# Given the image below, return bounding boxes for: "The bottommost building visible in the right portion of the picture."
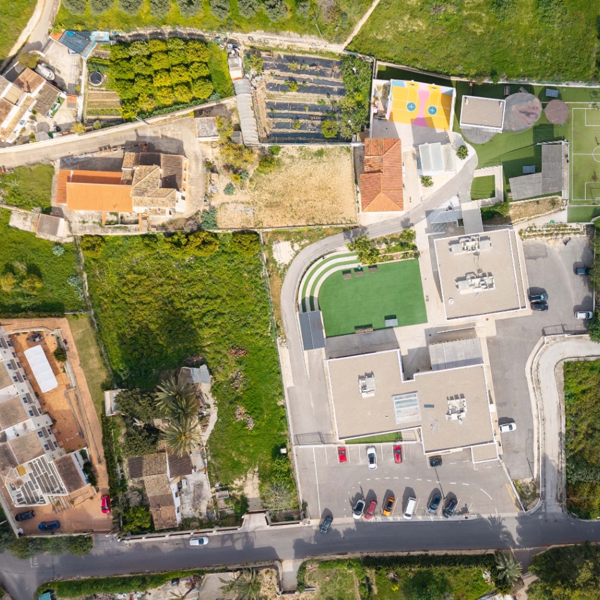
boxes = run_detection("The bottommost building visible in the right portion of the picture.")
[328,349,499,463]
